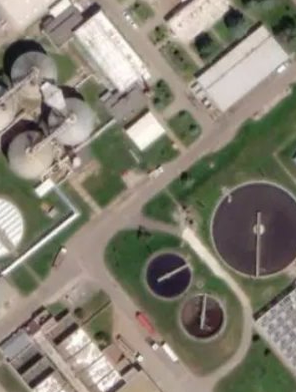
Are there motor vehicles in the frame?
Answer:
Yes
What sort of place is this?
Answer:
industrial area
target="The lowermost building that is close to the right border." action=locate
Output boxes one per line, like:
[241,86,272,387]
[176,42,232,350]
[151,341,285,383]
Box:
[198,26,288,113]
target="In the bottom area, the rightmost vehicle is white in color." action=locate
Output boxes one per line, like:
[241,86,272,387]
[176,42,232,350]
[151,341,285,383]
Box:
[162,342,179,362]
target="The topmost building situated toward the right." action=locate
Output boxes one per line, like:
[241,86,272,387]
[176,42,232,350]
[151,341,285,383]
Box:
[168,0,237,41]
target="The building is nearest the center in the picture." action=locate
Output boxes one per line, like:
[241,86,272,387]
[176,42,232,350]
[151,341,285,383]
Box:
[125,112,165,151]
